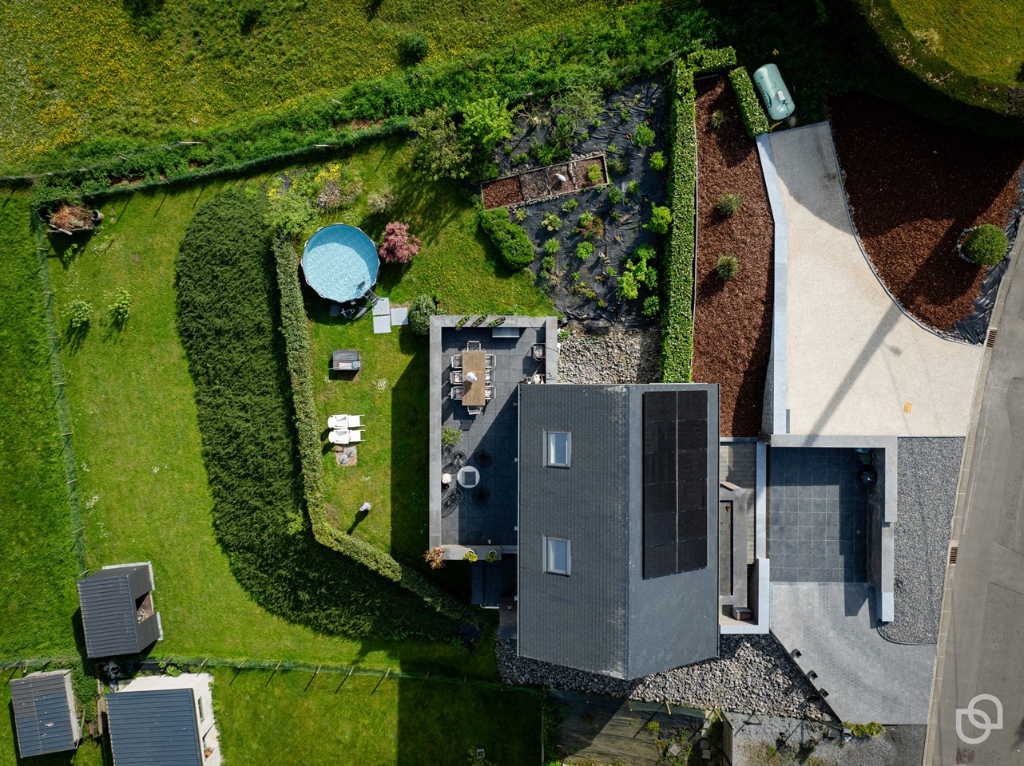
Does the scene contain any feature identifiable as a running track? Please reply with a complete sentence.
No, this view has no running track in it.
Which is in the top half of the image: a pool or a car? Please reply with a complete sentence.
Visible in the top half of the image is a pool.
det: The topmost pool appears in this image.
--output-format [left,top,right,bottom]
[300,223,384,305]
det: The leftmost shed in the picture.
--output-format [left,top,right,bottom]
[9,669,86,758]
